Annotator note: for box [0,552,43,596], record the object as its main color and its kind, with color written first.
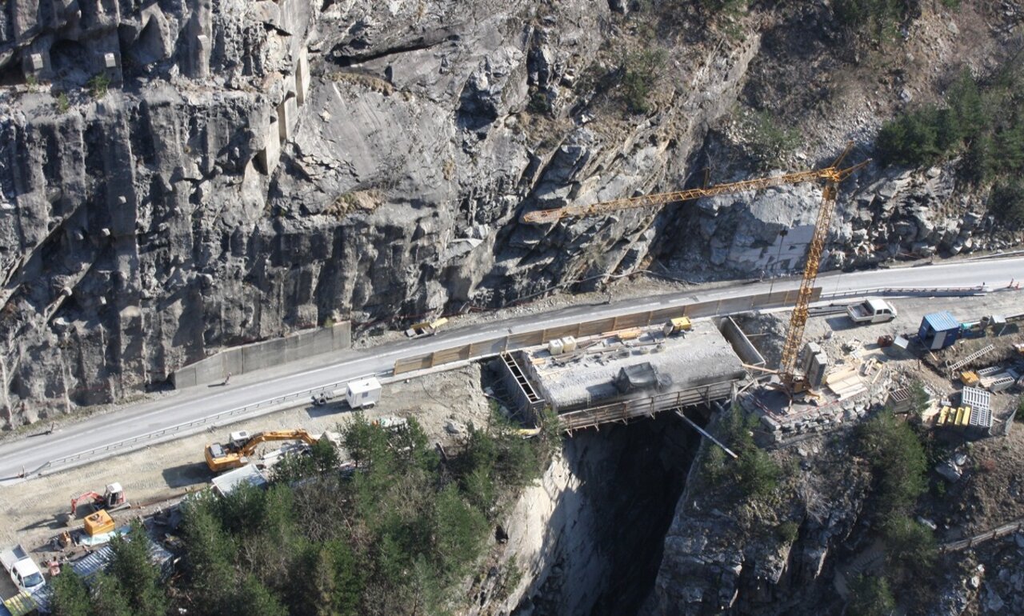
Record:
white truck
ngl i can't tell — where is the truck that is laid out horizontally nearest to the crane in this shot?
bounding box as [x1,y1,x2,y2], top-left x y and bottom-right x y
[847,297,900,324]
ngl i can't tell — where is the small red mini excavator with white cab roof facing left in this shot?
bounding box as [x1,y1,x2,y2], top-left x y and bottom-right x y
[64,488,126,526]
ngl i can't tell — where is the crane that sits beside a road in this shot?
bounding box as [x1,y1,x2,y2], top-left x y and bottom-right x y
[523,143,873,413]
